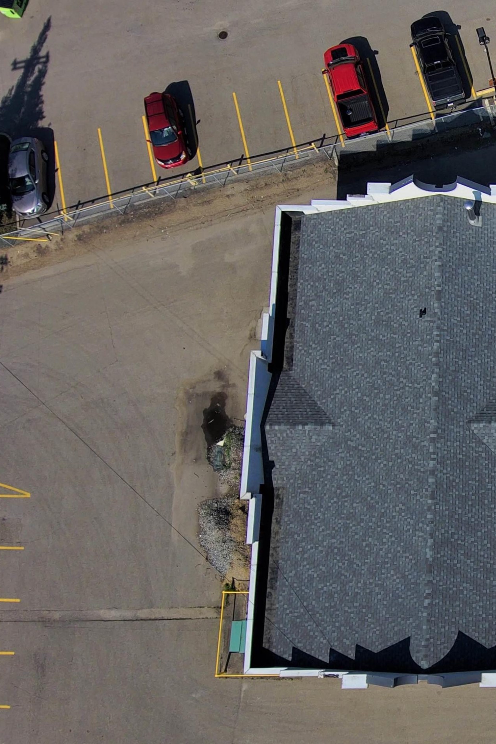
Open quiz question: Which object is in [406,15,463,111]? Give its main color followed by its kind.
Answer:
black truck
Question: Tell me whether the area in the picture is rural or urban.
urban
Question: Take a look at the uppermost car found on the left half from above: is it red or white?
red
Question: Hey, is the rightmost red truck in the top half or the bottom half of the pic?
top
